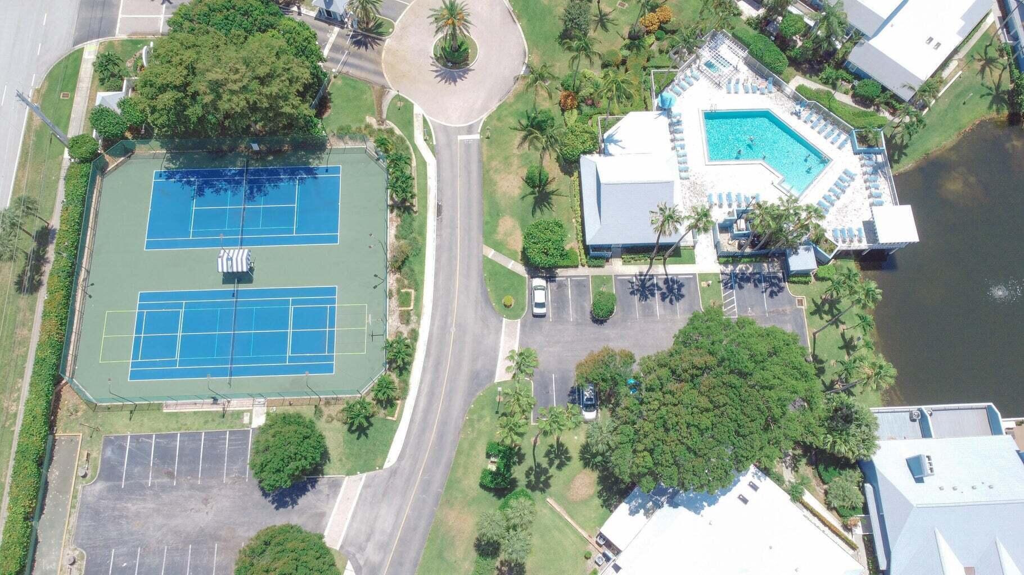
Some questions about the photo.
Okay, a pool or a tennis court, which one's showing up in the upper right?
pool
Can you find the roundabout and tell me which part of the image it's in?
top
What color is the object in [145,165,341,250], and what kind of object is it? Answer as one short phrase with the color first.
blue tennis court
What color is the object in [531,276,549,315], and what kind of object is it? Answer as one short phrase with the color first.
white car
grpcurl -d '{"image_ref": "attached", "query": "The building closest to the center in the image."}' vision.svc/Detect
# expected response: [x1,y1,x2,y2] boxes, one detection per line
[580,154,684,259]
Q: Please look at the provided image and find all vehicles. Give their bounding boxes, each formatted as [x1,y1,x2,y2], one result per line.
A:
[580,380,600,421]
[531,276,549,315]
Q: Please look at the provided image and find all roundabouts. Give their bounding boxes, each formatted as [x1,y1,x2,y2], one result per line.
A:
[381,0,529,127]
